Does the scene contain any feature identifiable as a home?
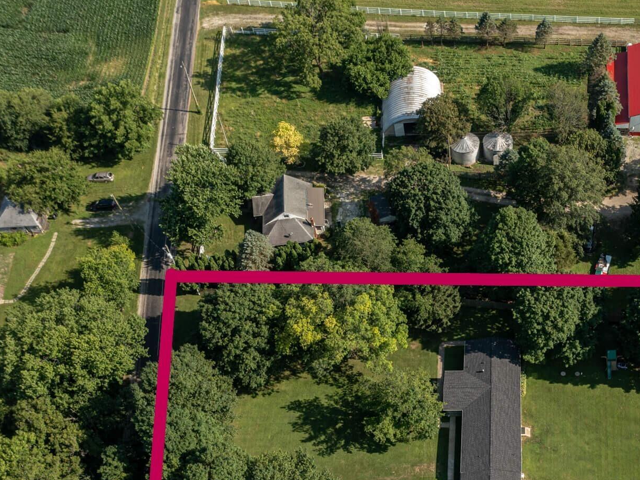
Yes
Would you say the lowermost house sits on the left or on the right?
right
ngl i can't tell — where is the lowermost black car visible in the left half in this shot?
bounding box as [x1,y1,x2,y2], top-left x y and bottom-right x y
[87,200,118,213]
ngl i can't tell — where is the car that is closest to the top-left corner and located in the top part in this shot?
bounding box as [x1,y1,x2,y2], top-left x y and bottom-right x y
[85,171,115,183]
